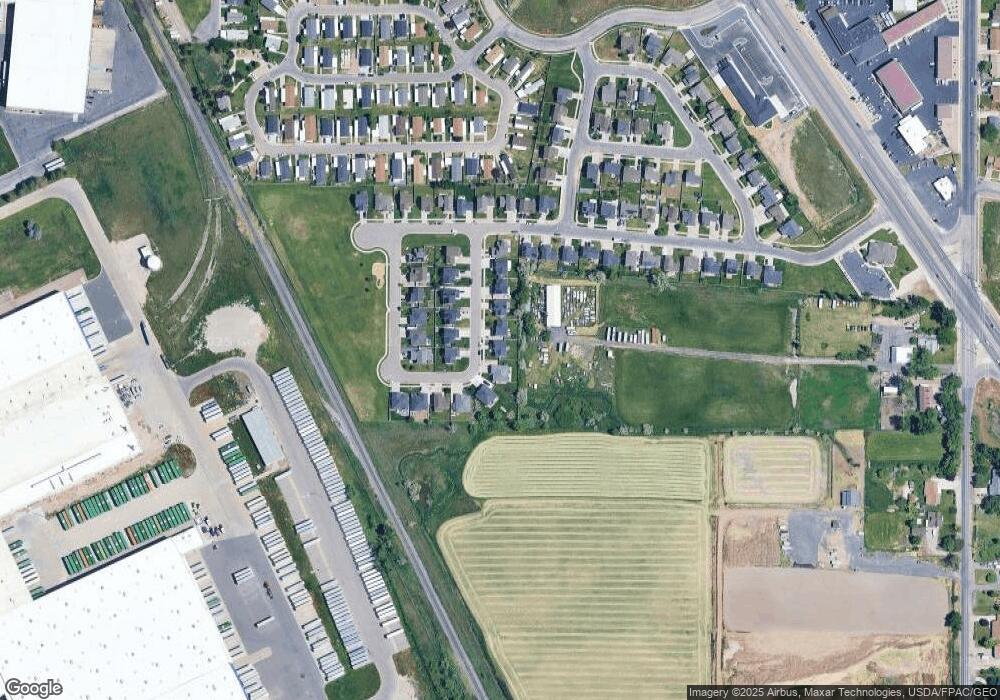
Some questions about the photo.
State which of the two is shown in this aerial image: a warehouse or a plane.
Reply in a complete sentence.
The one in the frame is a warehouse.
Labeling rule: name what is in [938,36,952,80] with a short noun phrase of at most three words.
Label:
building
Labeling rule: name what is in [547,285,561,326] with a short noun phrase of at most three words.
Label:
shed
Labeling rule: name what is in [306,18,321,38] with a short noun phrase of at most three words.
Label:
house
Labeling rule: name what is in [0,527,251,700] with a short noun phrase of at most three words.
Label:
warehouse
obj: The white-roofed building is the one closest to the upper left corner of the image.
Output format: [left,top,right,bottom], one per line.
[3,0,94,112]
